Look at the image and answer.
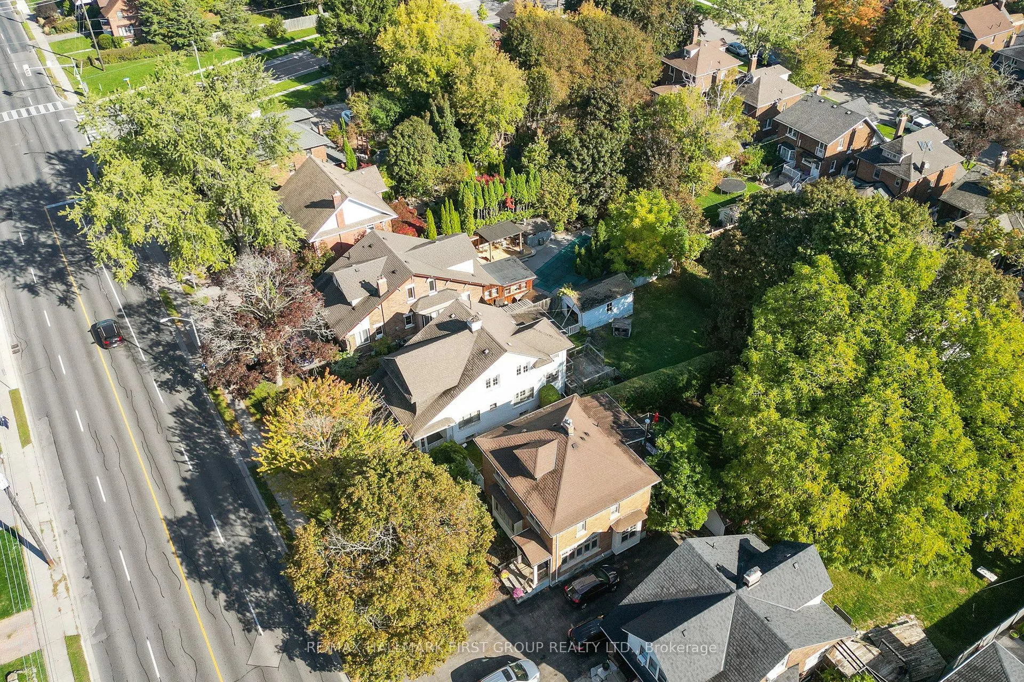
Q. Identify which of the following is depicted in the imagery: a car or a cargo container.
car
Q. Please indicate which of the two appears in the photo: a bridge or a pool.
pool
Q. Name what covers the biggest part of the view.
trees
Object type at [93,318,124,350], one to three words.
car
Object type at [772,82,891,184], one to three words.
house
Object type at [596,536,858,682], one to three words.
house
